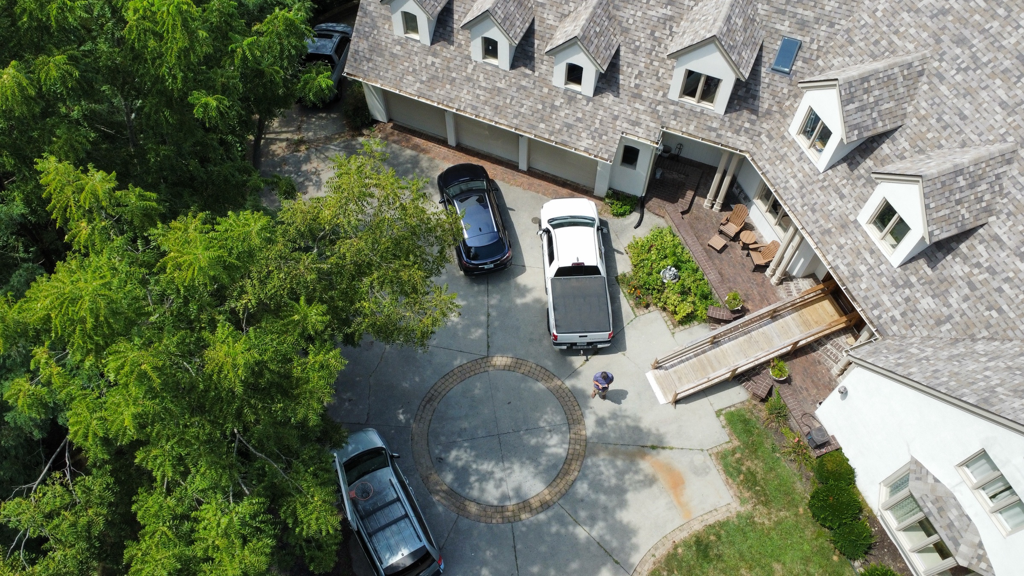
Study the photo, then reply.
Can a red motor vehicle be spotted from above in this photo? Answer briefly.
No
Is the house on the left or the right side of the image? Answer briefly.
right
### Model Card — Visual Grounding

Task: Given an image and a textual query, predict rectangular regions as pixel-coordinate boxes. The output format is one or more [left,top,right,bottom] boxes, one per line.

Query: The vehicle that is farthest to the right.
[538,198,616,360]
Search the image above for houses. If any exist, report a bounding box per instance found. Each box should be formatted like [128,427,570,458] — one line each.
[344,0,1024,576]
